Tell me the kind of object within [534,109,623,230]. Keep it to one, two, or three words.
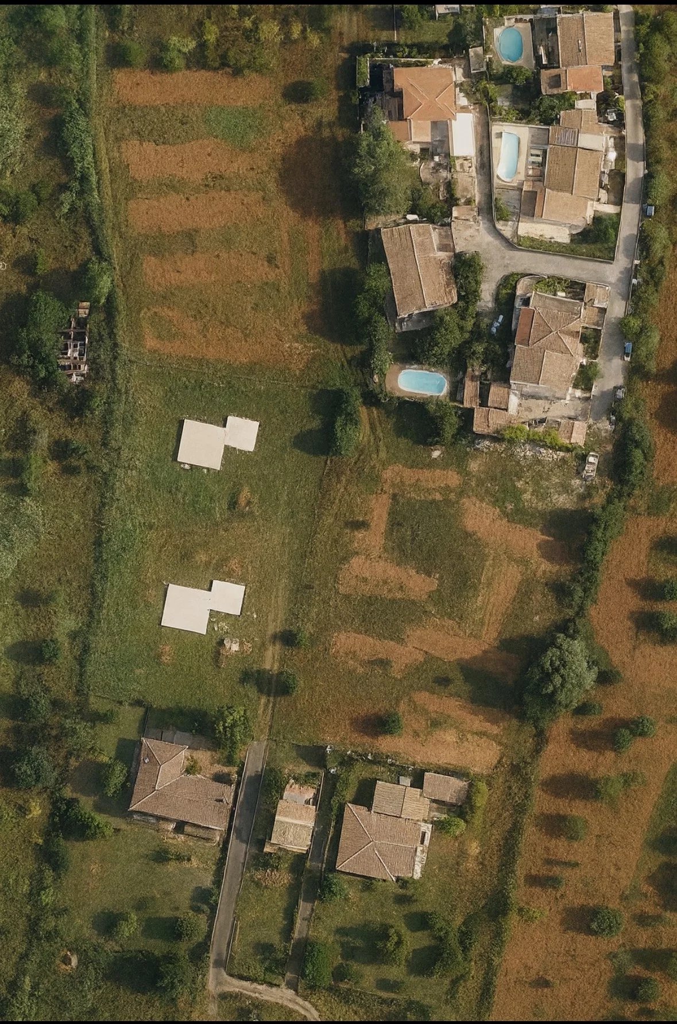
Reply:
house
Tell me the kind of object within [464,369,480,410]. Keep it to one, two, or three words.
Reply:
shed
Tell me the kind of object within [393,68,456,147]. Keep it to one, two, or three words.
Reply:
house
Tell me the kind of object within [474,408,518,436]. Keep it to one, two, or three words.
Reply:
shed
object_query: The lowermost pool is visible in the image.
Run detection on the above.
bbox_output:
[396,368,449,396]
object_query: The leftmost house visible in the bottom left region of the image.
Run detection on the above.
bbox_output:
[128,738,233,842]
